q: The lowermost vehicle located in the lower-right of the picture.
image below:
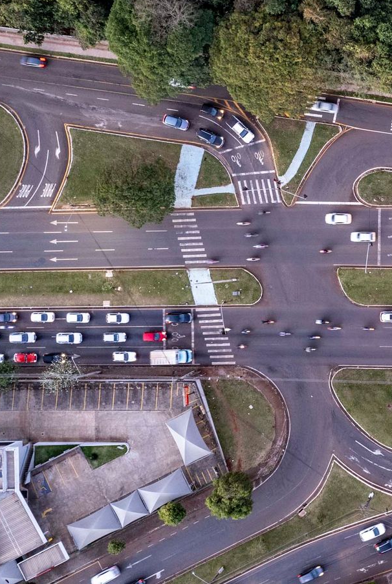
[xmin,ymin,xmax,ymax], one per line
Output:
[296,564,324,584]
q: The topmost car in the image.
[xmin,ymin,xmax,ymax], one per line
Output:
[21,54,49,69]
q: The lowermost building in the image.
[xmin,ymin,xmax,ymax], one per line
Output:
[17,536,76,582]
